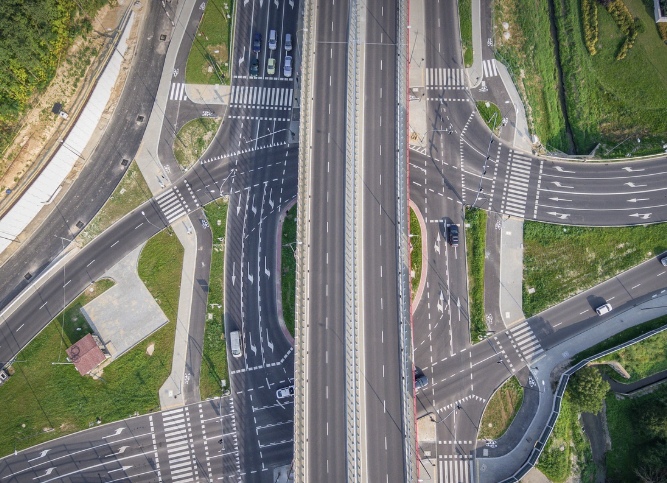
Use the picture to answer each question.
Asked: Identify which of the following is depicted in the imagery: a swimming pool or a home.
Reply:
home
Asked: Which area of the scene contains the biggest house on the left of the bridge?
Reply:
bottom left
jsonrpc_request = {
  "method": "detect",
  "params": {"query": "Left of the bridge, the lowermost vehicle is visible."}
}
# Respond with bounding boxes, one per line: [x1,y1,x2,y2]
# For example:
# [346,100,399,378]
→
[275,385,295,399]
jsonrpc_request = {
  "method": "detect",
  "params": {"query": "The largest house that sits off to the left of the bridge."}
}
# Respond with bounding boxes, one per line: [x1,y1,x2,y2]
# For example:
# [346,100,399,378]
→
[66,333,109,376]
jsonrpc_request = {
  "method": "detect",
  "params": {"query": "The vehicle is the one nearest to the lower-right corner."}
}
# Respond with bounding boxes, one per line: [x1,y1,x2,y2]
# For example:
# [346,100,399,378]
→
[594,301,615,316]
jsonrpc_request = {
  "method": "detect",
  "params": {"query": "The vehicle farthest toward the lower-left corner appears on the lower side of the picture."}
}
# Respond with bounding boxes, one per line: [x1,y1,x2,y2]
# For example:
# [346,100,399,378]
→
[228,331,242,358]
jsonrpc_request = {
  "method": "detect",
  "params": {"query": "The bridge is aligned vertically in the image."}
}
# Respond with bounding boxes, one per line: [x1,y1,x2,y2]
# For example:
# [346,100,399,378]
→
[293,0,420,483]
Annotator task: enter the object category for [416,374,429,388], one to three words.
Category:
vehicle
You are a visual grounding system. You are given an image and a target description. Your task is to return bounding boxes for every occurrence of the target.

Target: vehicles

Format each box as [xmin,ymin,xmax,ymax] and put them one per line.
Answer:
[275,385,295,399]
[252,33,262,53]
[283,57,292,77]
[268,31,277,50]
[249,59,259,78]
[416,374,429,388]
[449,225,459,247]
[594,301,615,316]
[266,58,276,76]
[283,34,292,51]
[228,331,242,358]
